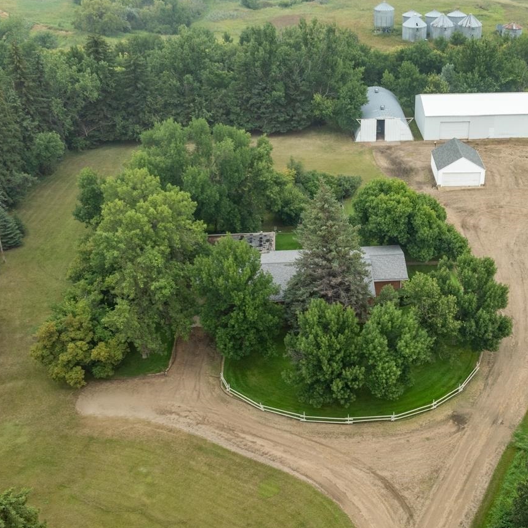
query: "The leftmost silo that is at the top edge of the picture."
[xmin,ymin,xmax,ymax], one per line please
[373,0,394,31]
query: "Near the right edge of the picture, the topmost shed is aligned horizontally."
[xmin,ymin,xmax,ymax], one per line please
[415,91,528,140]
